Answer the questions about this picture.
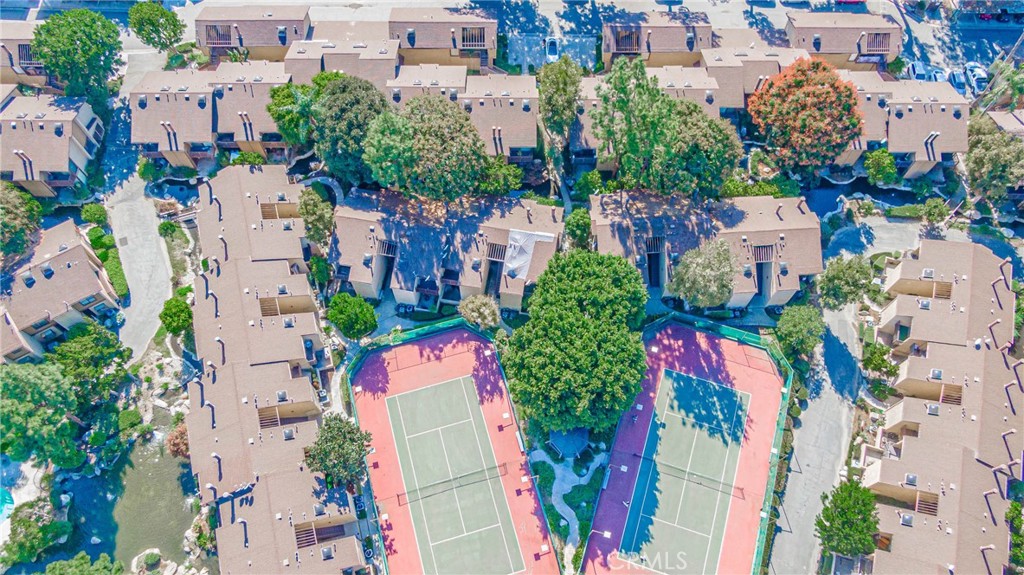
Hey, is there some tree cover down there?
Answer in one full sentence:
Yes, there's tree cover in this view.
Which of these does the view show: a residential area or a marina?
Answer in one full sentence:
This image shows a residential area.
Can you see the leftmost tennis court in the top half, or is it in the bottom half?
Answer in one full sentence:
Seen from above, the leftmost tennis court lies in the bottom half of the view.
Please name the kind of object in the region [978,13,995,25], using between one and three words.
vehicle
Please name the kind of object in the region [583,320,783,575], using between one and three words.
tennis court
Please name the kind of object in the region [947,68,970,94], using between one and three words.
car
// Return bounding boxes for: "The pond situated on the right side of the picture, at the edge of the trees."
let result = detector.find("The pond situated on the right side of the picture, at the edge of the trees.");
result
[800,177,937,227]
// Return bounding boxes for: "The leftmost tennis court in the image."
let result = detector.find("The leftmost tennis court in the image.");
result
[349,328,562,575]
